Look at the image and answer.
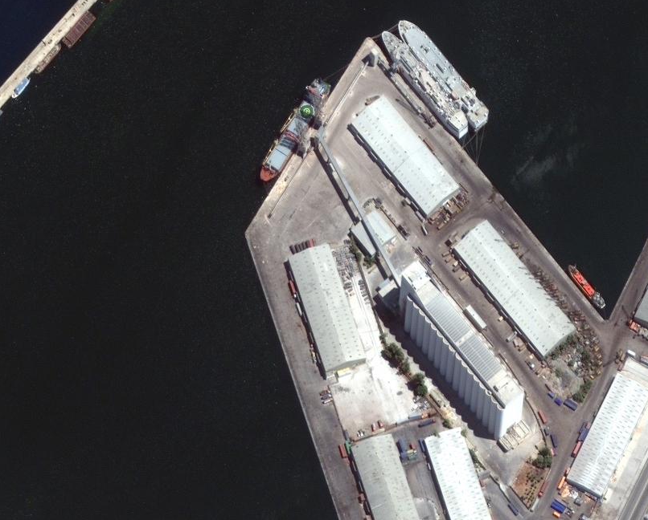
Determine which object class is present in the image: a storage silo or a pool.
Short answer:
storage silo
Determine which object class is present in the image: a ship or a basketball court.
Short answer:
ship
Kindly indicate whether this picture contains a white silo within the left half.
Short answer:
No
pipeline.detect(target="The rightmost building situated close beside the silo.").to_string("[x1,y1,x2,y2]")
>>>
[568,372,648,499]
